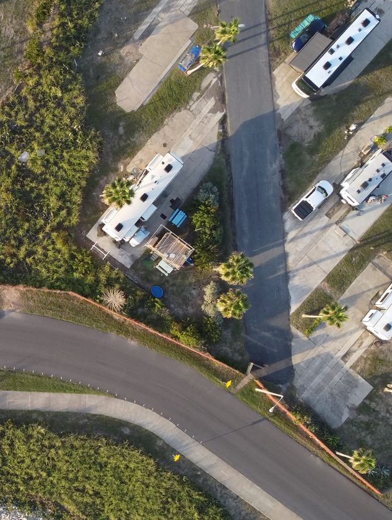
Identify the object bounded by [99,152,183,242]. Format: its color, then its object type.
white camper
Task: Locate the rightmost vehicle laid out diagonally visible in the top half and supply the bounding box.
[333,151,392,208]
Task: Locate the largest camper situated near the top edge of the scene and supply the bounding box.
[281,6,380,107]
